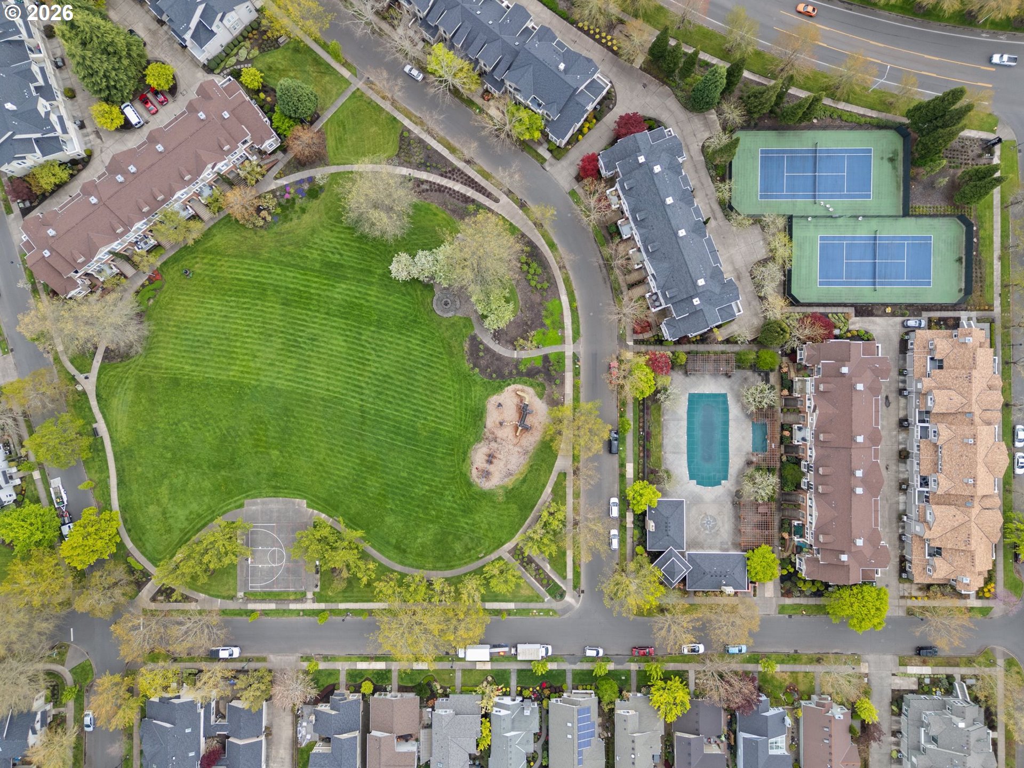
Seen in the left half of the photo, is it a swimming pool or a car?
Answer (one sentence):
The feature located in the left half of the photo is a car.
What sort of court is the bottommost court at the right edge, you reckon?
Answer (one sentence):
It looks like the bottommost court at the right edge is a tennis court.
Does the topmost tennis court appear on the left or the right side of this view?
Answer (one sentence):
The topmost tennis court sits on the right side.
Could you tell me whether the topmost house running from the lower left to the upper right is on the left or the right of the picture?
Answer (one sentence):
It is on the left.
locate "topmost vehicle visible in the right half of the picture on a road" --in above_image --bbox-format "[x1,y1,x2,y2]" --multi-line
[796,1,819,15]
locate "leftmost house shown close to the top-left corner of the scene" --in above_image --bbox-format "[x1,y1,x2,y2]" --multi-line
[0,0,86,174]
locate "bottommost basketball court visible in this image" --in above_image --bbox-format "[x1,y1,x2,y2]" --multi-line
[237,498,319,592]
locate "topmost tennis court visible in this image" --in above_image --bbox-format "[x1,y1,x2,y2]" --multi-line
[732,125,911,216]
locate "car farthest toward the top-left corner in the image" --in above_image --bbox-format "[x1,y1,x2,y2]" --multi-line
[128,26,145,47]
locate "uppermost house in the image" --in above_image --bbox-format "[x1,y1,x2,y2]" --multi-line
[155,0,265,64]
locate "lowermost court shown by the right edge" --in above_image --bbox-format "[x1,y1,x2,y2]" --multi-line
[792,213,974,303]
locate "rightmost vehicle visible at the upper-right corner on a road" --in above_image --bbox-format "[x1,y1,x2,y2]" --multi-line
[992,51,1020,64]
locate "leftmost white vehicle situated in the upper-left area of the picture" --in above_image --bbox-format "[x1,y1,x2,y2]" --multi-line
[119,101,140,126]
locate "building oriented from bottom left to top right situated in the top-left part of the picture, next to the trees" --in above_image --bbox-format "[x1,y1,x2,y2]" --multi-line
[18,76,292,302]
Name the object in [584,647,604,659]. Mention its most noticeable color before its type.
white vehicle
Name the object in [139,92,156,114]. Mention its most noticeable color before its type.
red car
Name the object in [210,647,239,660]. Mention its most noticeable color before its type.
white vehicle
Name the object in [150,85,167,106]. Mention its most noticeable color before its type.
red car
